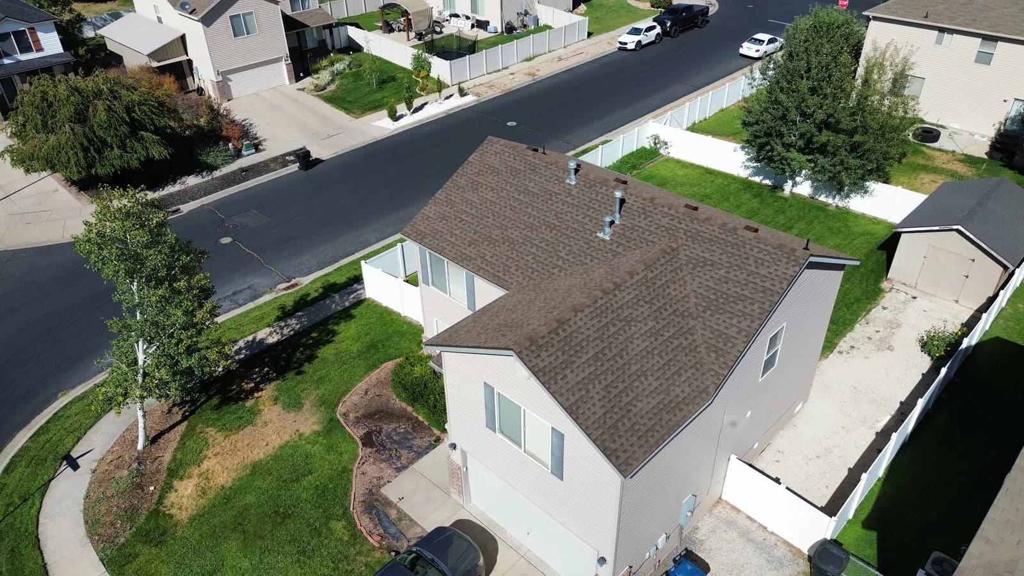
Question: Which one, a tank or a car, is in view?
car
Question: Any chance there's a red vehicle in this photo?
No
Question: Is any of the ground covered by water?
No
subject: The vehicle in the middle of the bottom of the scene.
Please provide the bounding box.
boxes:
[368,523,490,576]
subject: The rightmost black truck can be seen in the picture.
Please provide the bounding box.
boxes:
[656,4,713,38]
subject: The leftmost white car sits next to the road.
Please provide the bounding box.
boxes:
[615,21,665,52]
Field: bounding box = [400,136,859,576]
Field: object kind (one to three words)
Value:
house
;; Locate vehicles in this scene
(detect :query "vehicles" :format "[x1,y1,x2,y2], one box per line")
[368,523,490,576]
[736,32,780,57]
[615,21,665,52]
[656,4,713,38]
